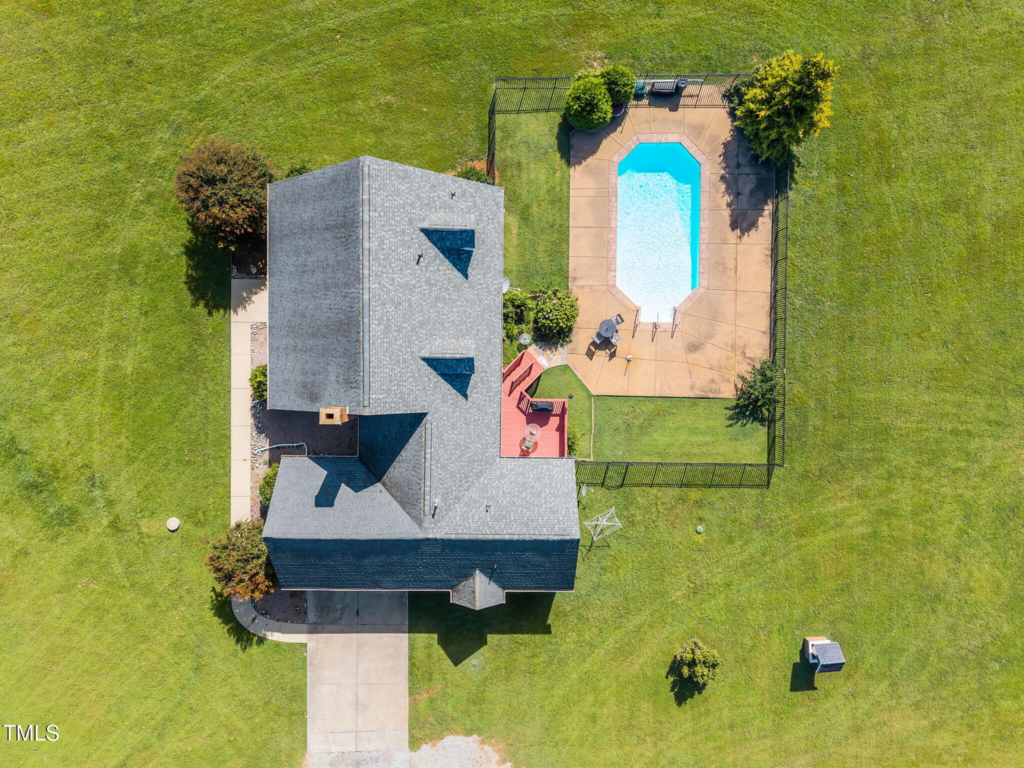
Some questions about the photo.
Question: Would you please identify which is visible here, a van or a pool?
pool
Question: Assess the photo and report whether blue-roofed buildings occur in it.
No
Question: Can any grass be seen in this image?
Yes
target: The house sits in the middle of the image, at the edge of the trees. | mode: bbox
[263,155,580,611]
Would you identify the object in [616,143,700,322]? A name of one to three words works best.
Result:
swimming pool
